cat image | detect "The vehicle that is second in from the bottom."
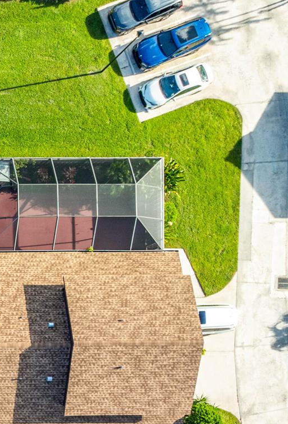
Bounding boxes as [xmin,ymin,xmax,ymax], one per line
[135,62,215,110]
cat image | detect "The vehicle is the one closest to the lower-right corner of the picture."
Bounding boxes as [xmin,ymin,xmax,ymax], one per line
[195,305,240,335]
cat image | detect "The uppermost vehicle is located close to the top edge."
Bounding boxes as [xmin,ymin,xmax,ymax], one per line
[104,0,185,38]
